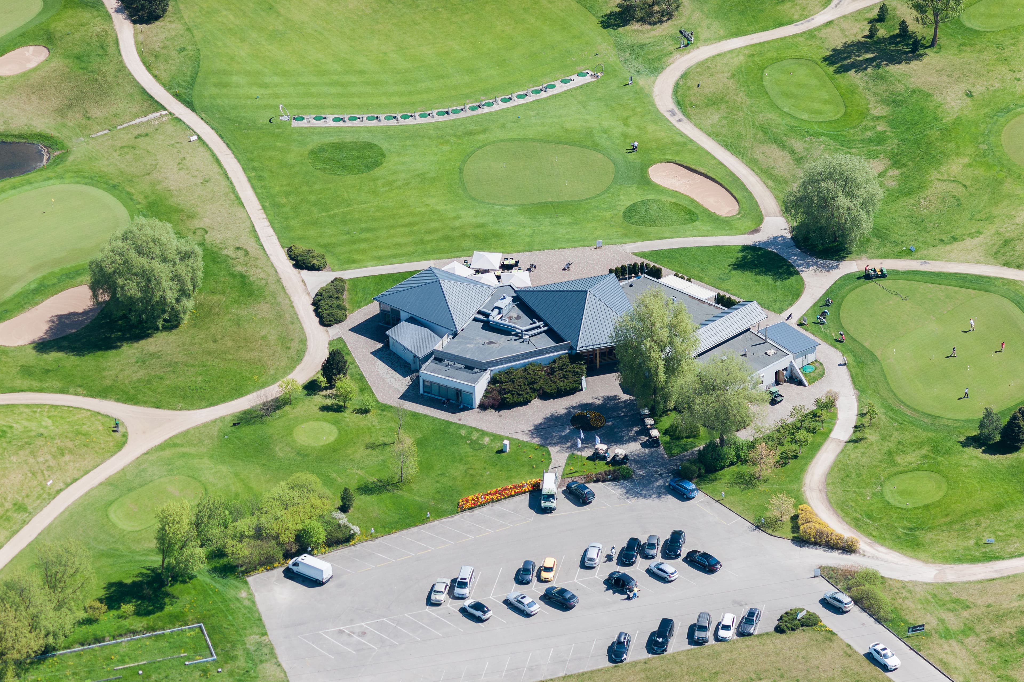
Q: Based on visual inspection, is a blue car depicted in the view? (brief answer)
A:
Yes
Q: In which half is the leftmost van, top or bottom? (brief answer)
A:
bottom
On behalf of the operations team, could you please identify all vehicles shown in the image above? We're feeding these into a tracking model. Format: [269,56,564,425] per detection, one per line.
[819,592,857,617]
[460,600,495,623]
[517,561,538,586]
[864,644,905,673]
[583,544,604,570]
[715,613,738,644]
[605,571,640,594]
[649,618,673,655]
[452,565,476,599]
[562,483,600,506]
[429,579,452,607]
[666,479,702,502]
[539,558,559,583]
[642,536,662,561]
[620,537,643,567]
[592,444,611,464]
[607,631,631,664]
[665,530,688,561]
[543,588,582,612]
[690,612,714,645]
[539,466,559,515]
[685,551,725,575]
[611,448,628,465]
[504,593,543,617]
[865,267,888,279]
[649,430,661,450]
[285,553,332,587]
[647,562,682,584]
[738,607,761,638]
[766,384,787,405]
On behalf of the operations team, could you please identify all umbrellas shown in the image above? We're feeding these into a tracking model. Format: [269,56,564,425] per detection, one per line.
[466,272,499,286]
[440,261,475,278]
[500,271,532,288]
[470,251,502,272]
